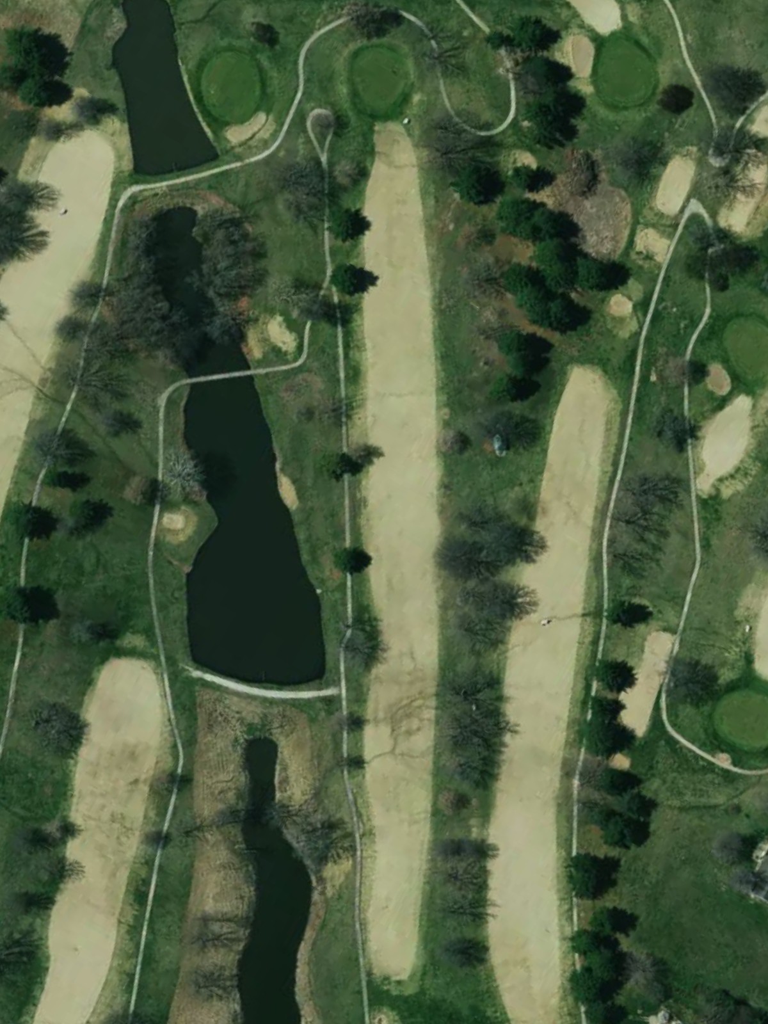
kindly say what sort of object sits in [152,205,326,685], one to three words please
pond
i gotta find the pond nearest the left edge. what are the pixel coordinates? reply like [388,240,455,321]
[111,0,219,177]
